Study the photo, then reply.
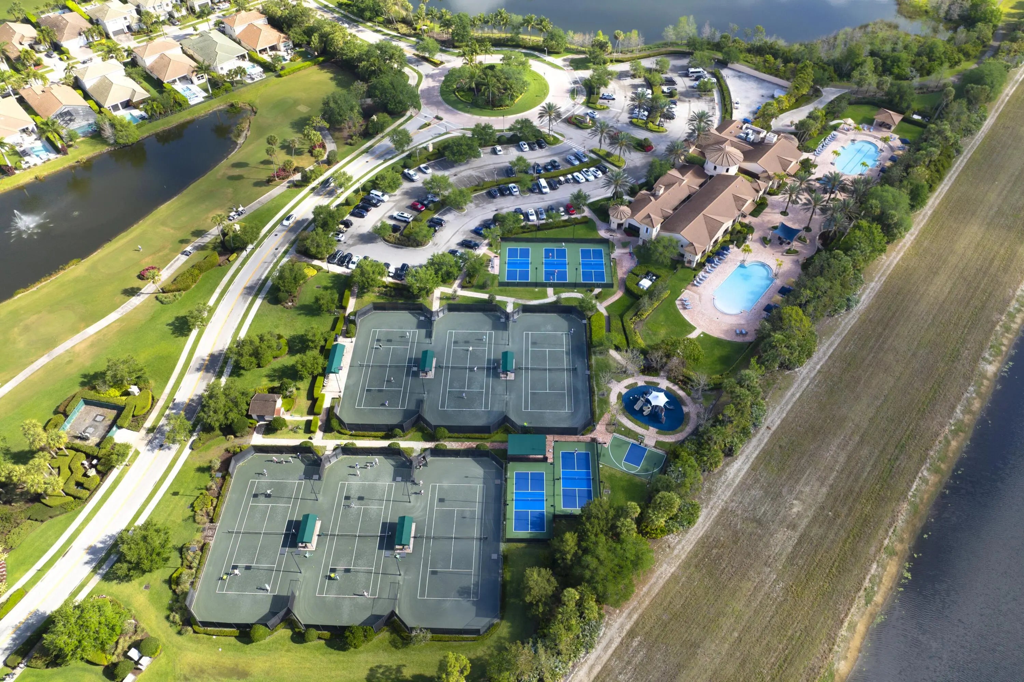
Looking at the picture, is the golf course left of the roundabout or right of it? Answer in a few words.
to the left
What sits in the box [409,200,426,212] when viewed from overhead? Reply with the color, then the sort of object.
red vehicle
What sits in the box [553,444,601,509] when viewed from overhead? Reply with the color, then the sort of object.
blue sports court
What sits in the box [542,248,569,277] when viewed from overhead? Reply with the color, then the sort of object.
blue sports court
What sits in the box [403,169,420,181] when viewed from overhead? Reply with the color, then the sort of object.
white vehicle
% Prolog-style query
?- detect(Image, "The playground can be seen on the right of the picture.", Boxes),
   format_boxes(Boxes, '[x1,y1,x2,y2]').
[614,376,697,437]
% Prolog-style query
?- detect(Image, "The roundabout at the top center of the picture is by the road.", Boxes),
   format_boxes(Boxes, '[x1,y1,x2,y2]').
[417,53,570,130]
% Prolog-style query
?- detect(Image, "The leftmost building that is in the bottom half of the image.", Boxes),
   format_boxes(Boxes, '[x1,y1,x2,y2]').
[248,393,288,426]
